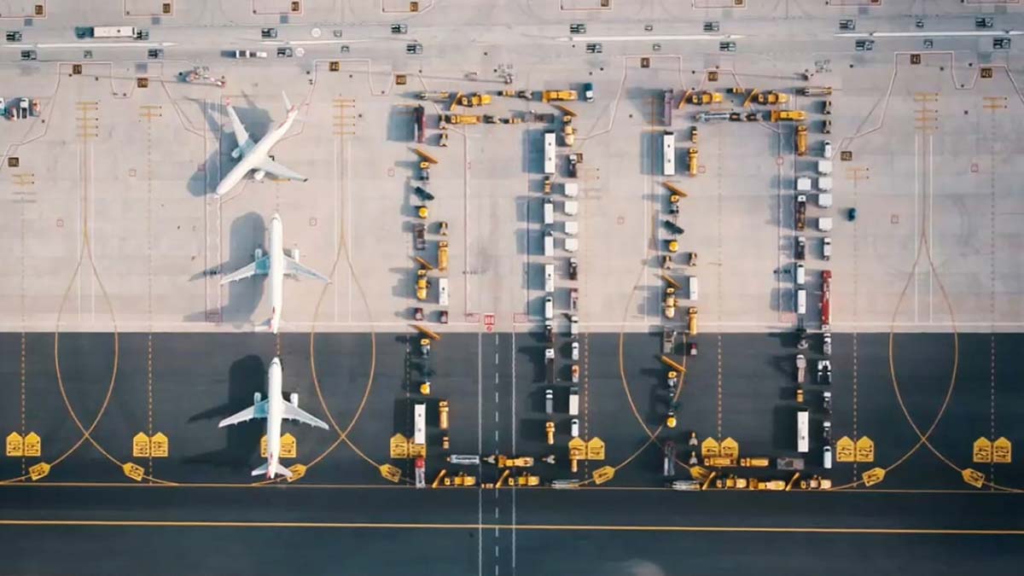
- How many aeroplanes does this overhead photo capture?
three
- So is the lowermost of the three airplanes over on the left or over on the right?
left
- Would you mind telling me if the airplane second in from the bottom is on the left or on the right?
left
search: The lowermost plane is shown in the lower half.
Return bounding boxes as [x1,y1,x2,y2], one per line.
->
[218,357,328,480]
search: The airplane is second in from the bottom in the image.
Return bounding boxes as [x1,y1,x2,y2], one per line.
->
[218,213,329,336]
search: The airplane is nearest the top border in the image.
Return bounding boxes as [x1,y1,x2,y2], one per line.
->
[216,96,306,198]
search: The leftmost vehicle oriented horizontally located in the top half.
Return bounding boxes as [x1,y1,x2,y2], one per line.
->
[94,27,141,39]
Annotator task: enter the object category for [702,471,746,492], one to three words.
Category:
truck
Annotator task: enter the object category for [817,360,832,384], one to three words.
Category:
work vehicle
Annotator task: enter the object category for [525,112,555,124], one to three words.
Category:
vehicle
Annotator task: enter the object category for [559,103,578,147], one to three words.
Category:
vehicle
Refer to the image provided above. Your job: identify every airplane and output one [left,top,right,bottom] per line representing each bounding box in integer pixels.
[218,213,329,336]
[216,96,306,198]
[218,357,328,480]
